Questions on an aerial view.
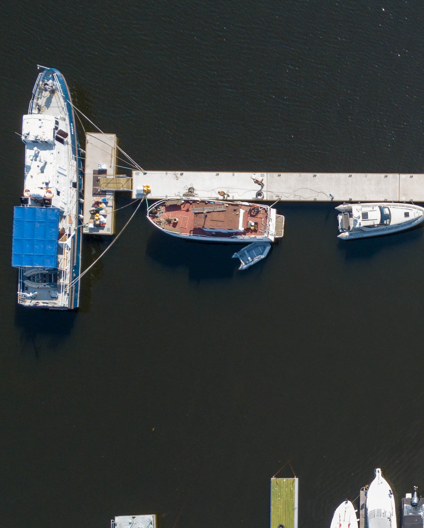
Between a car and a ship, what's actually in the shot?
ship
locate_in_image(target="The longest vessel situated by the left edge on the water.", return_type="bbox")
[11,64,137,309]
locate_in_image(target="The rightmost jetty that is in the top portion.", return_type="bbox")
[131,170,424,204]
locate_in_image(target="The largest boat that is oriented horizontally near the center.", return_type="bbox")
[146,197,286,243]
